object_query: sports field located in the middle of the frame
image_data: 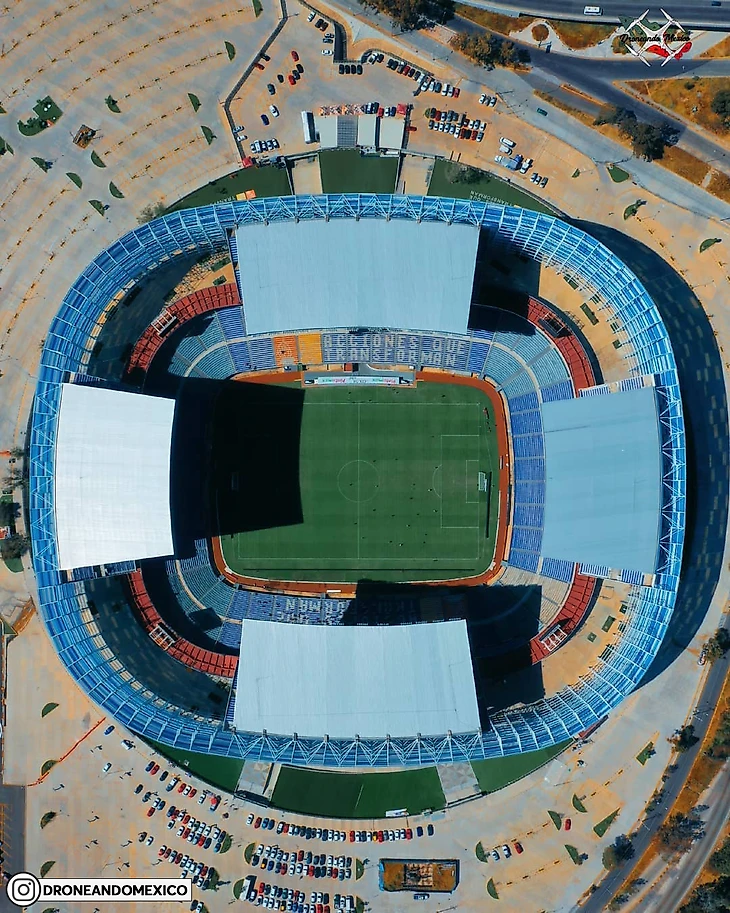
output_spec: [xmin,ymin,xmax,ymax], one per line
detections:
[218,382,498,580]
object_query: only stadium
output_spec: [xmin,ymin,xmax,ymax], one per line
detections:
[31,194,685,765]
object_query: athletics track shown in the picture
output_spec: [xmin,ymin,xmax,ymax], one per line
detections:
[204,364,513,596]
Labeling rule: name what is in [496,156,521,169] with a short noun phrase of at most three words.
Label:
vehicle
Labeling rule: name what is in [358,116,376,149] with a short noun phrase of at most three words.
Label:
building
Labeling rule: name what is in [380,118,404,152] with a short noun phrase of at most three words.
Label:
building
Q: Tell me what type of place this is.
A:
sports ground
